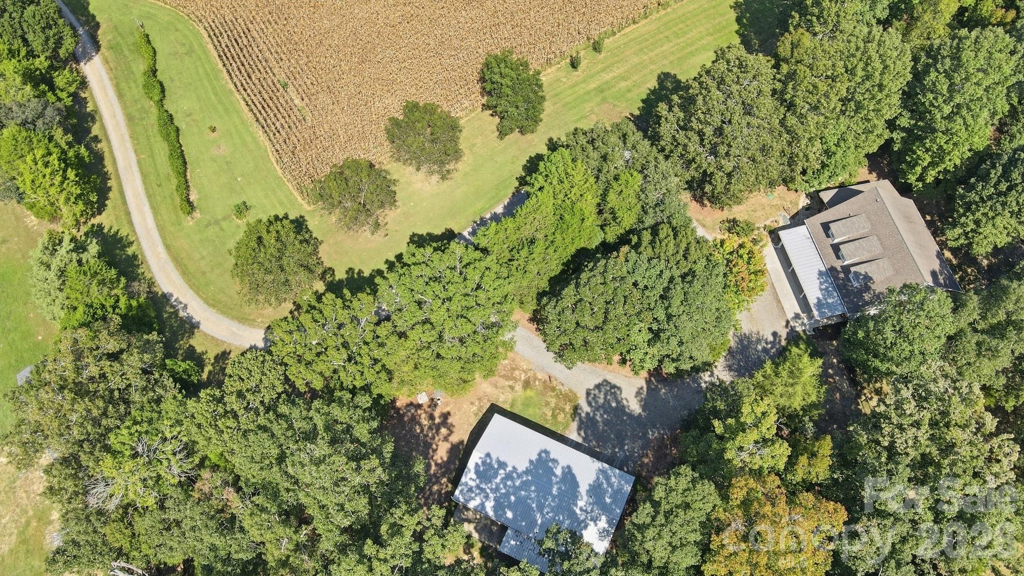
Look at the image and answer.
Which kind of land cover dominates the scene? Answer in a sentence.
Most of the picture is covered by trees.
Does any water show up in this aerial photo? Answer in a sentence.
No, the picture contains no water.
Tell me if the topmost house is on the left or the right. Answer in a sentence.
You can find the topmost house on the right side of the picture.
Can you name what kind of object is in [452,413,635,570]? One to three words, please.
building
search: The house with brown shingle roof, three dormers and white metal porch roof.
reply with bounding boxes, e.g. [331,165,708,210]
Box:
[769,176,962,336]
